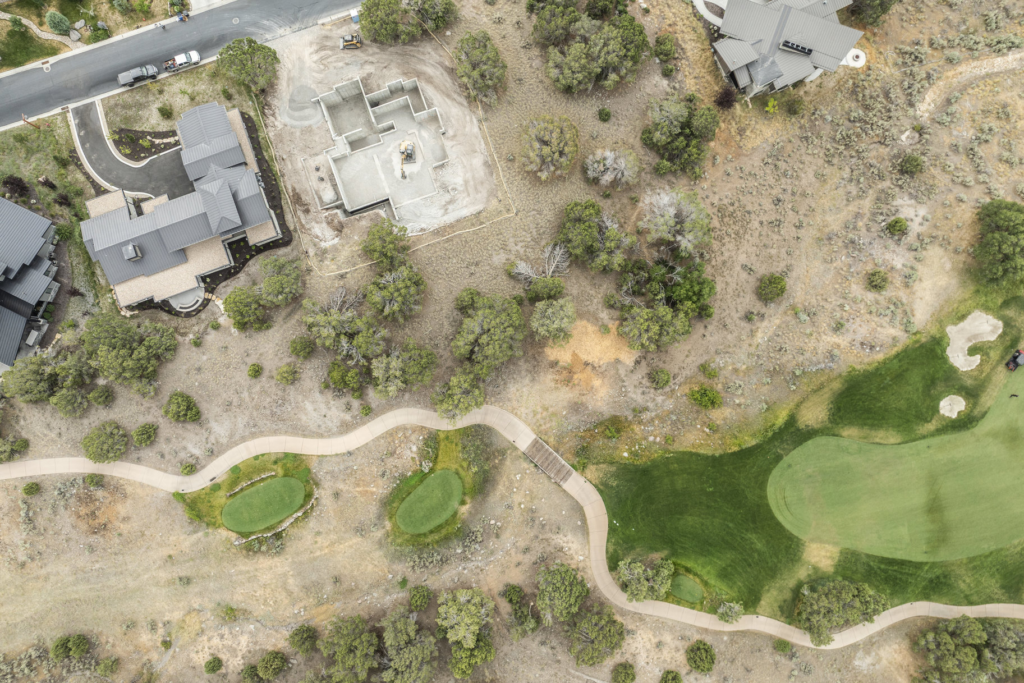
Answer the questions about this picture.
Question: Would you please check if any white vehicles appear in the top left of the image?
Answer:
Yes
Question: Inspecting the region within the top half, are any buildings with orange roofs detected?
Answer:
No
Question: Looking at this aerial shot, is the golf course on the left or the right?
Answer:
right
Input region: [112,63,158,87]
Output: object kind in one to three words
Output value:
truck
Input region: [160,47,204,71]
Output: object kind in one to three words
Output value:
truck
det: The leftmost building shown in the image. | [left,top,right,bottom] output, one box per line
[0,197,73,367]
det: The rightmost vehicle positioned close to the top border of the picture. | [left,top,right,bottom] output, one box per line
[340,32,362,49]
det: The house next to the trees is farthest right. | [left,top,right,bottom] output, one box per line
[705,0,863,99]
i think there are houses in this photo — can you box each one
[0,197,73,367]
[705,0,863,99]
[80,102,286,308]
